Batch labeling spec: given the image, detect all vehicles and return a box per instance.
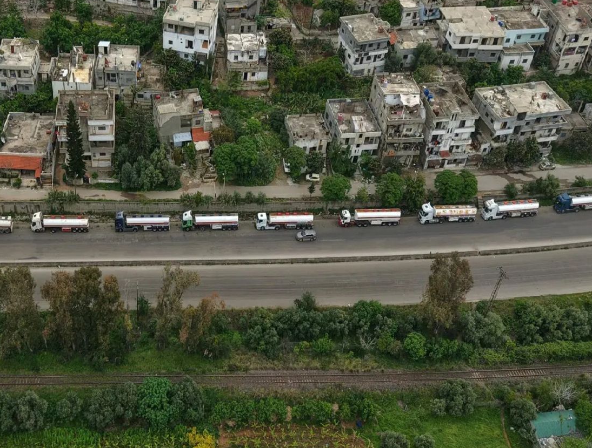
[295,230,316,241]
[116,211,169,231]
[339,203,402,226]
[0,213,12,233]
[480,196,541,219]
[255,209,313,229]
[30,210,88,232]
[552,190,592,212]
[419,201,478,223]
[538,159,558,168]
[305,172,321,180]
[182,209,238,230]
[284,156,292,170]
